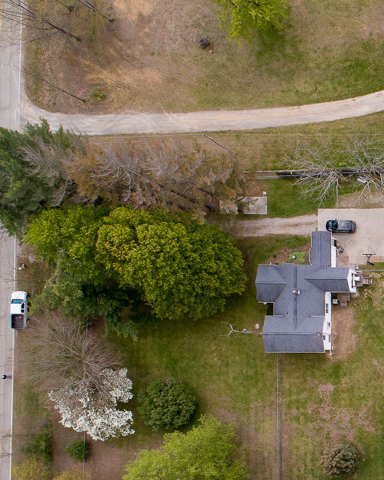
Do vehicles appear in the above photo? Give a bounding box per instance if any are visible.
[3,291,26,329]
[324,217,356,233]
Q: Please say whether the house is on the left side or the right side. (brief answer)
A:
right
